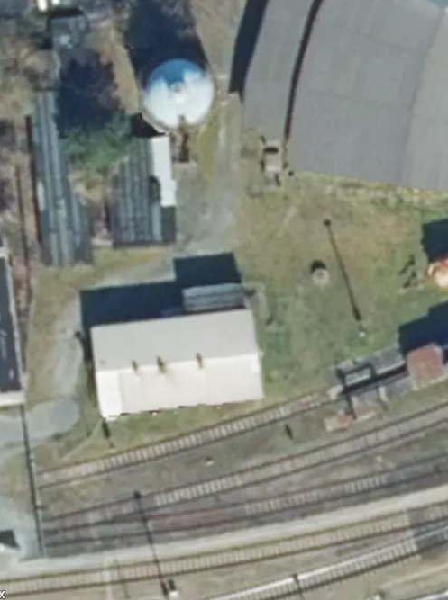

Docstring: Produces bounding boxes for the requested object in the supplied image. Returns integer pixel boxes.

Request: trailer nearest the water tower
[260,144,282,189]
